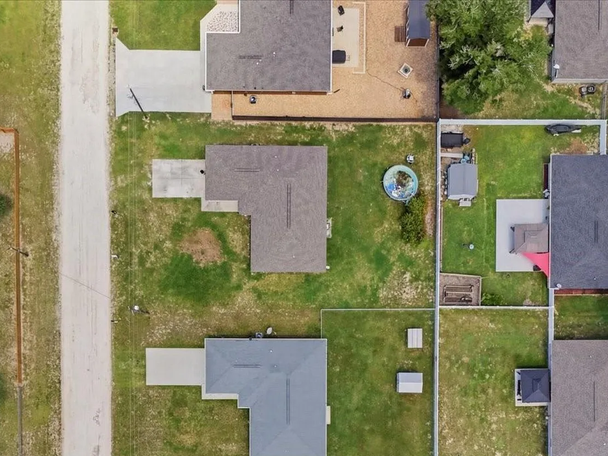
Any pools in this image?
Yes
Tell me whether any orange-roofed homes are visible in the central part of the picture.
No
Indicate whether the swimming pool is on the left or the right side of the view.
right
